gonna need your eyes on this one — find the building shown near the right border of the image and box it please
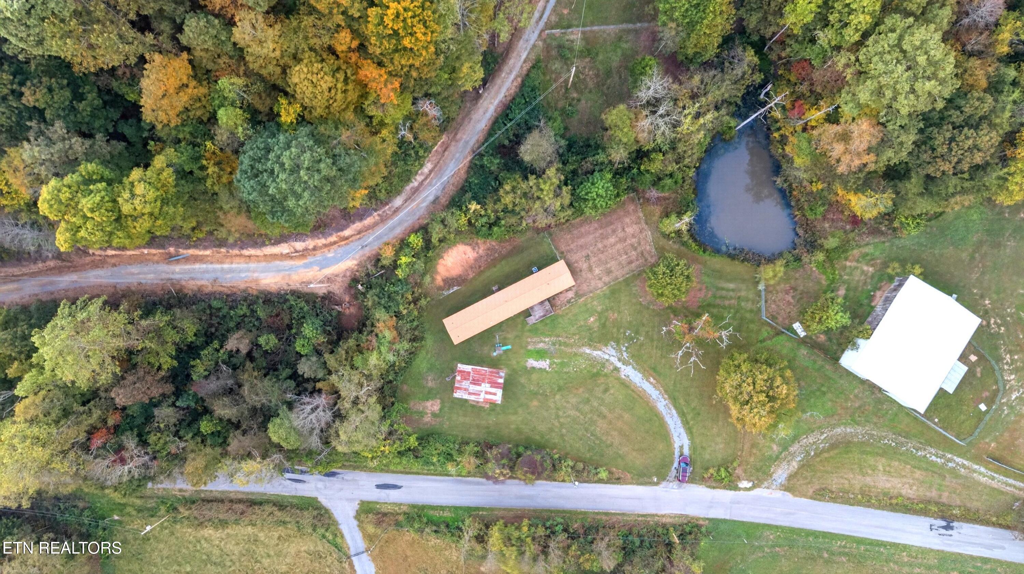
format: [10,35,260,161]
[834,275,982,413]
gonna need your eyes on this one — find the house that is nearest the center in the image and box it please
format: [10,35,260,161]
[443,260,575,344]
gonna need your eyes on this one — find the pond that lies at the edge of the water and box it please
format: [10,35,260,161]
[688,78,799,266]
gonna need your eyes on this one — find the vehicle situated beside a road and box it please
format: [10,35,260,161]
[677,455,691,483]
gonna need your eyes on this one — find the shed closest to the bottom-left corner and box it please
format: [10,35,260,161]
[453,364,505,403]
